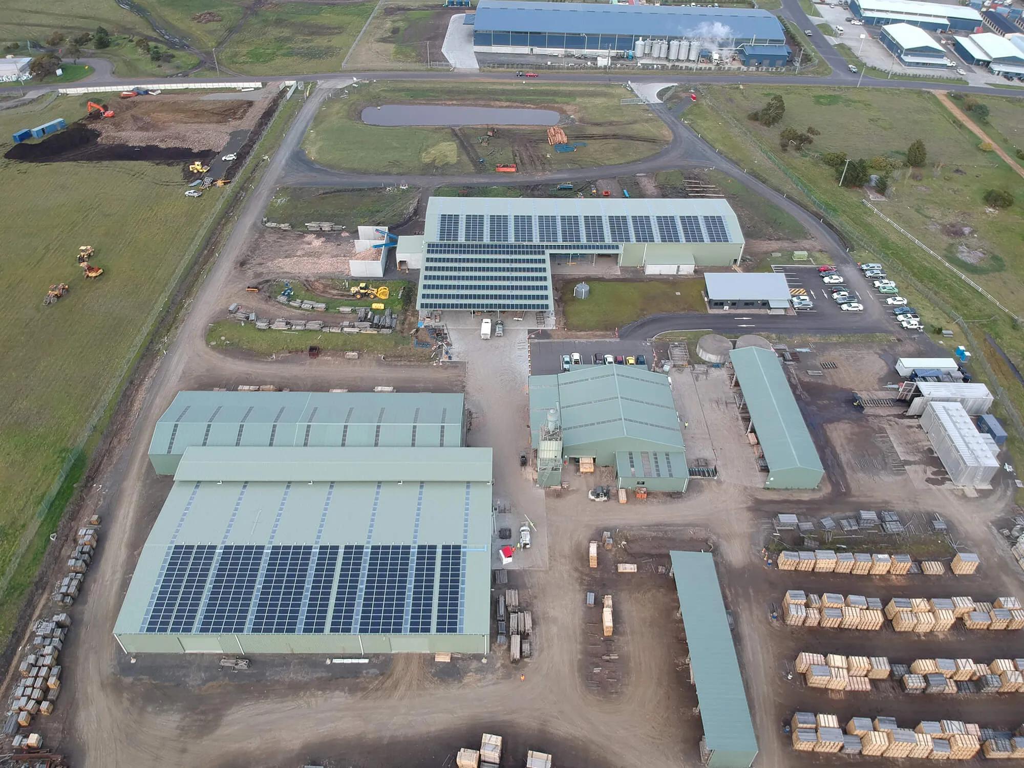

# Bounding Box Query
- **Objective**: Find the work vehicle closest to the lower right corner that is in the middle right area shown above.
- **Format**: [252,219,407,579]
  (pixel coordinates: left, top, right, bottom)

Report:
[850,394,866,407]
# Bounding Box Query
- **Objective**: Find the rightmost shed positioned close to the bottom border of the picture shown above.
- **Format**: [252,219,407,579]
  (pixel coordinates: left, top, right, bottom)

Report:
[668,549,757,766]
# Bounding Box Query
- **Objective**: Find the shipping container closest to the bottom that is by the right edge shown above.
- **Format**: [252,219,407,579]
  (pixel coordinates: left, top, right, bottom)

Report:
[972,412,1010,443]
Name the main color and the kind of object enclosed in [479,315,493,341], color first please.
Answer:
white vehicle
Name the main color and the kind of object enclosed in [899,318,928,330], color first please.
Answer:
white vehicle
